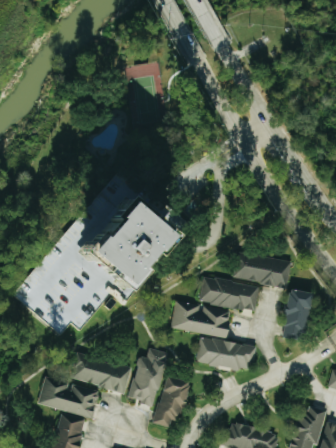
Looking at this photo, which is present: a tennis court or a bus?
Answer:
tennis court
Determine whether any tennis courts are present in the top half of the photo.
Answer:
Yes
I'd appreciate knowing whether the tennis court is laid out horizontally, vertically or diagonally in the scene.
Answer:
vertically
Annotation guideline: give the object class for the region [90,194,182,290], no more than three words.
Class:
building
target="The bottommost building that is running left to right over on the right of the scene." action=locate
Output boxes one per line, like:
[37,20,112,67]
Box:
[226,424,280,448]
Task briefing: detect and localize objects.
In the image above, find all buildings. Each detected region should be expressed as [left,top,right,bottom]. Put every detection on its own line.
[152,376,190,428]
[292,406,328,448]
[56,416,86,448]
[200,276,260,313]
[38,377,100,420]
[72,349,132,394]
[282,289,314,336]
[90,194,182,290]
[226,424,280,448]
[172,299,231,340]
[197,337,256,374]
[129,346,167,408]
[238,257,292,292]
